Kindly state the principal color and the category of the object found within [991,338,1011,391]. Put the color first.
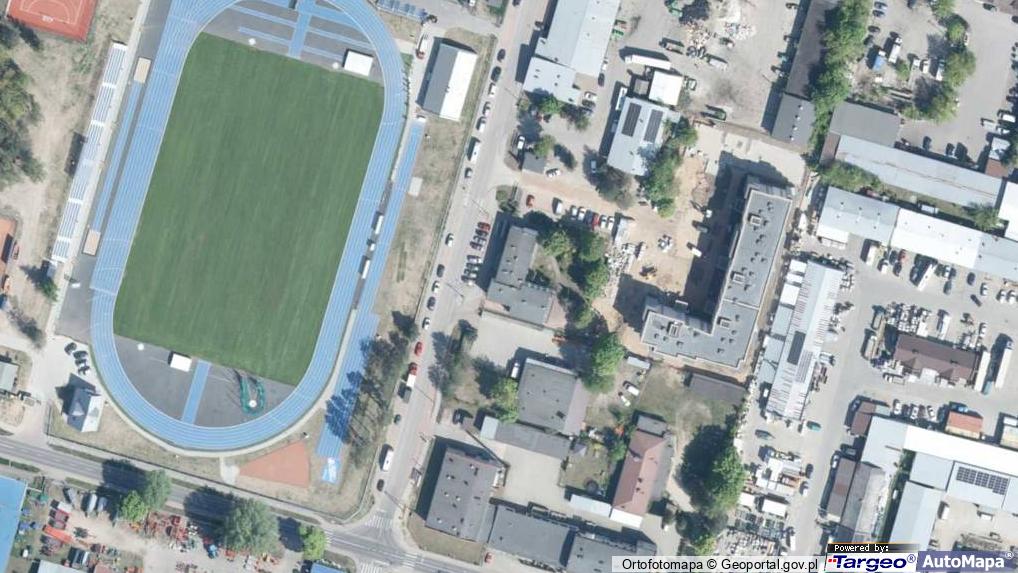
white vehicle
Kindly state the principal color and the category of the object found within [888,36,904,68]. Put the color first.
white vehicle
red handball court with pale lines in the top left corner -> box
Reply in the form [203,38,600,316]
[5,0,95,39]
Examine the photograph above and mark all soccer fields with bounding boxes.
[116,31,384,385]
